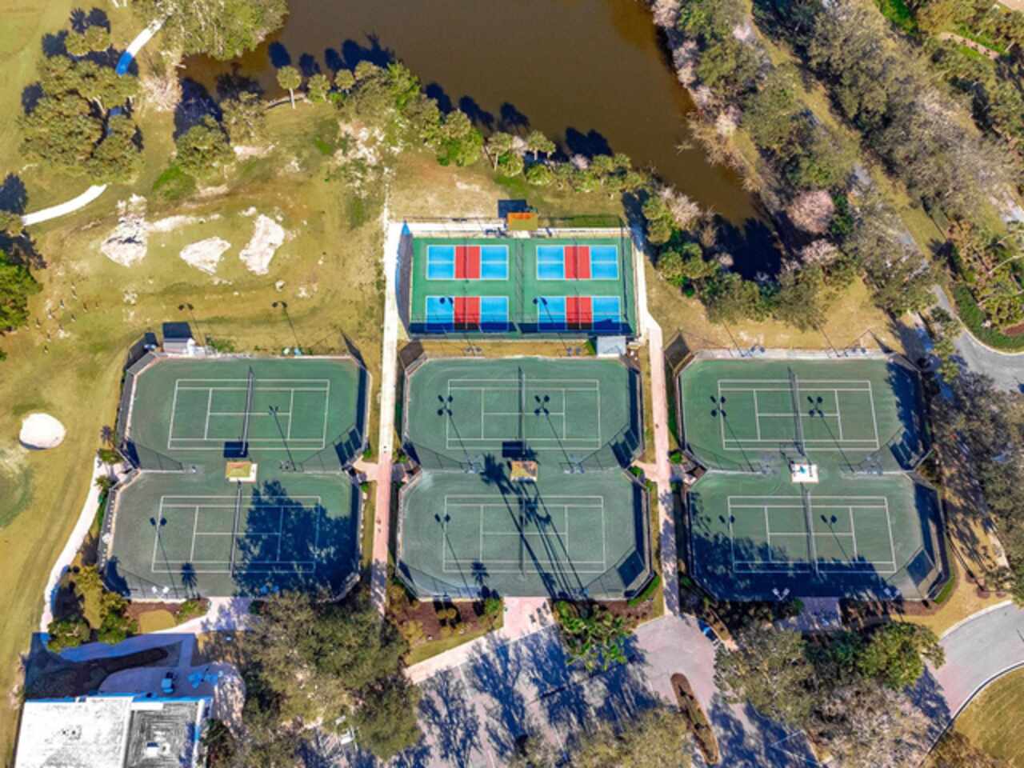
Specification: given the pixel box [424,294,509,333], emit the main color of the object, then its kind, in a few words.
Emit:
blue sports court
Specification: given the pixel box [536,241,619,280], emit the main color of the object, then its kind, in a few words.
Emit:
blue sports court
